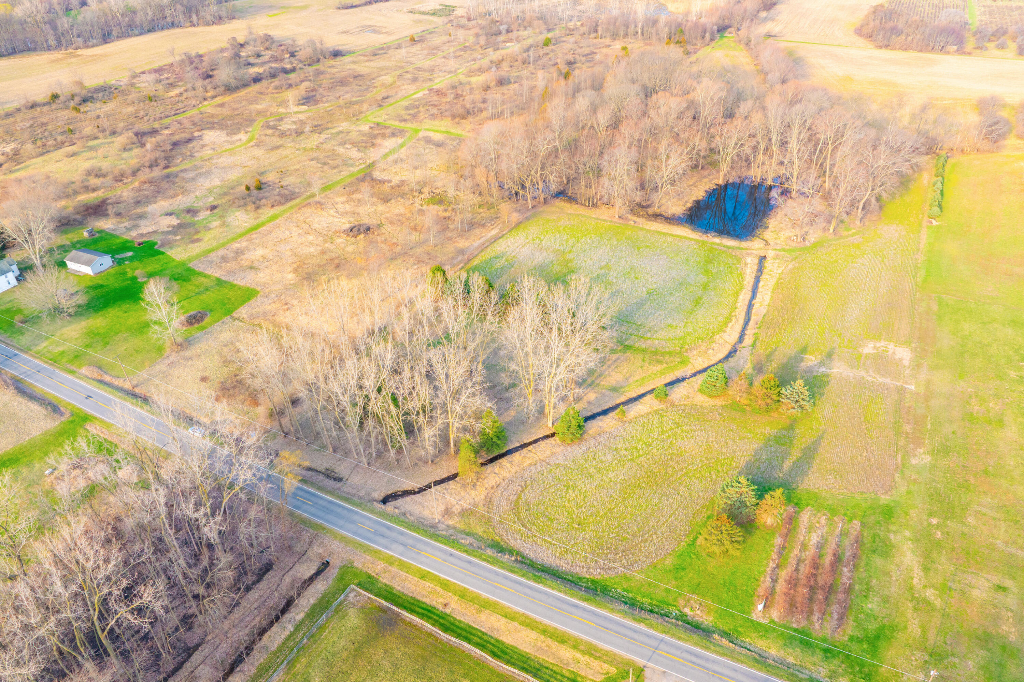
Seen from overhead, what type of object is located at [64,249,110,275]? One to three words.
building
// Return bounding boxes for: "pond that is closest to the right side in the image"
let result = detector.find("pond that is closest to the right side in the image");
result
[680,176,779,241]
